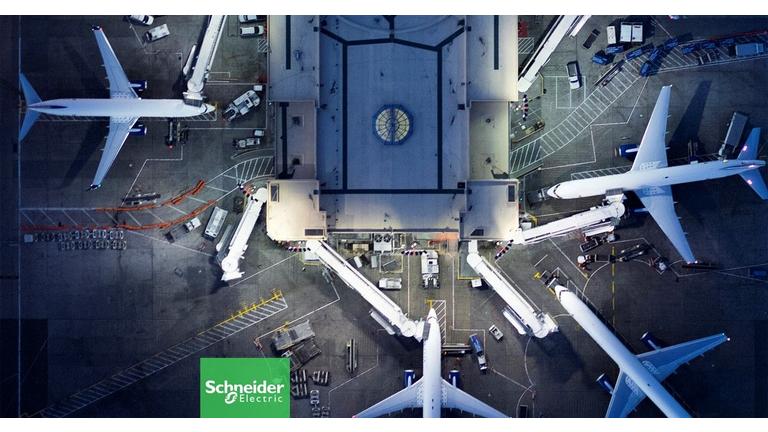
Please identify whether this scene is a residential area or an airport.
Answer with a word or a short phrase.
airport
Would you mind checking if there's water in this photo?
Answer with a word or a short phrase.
No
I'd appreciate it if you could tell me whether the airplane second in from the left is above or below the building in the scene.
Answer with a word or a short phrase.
below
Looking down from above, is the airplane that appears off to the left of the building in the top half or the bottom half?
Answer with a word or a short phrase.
top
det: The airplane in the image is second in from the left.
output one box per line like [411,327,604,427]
[350,308,515,432]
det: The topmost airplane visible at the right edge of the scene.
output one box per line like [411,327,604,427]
[546,82,768,266]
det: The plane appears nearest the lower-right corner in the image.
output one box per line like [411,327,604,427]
[555,287,738,432]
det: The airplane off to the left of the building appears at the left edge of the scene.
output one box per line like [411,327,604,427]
[13,24,217,189]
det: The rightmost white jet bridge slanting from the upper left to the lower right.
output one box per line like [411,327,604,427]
[466,240,559,337]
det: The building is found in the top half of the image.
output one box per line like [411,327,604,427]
[266,0,520,243]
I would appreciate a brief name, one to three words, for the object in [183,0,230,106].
jet bridge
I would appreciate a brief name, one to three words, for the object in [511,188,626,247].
jet bridge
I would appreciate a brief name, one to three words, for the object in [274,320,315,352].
work vehicle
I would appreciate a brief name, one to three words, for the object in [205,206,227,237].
bus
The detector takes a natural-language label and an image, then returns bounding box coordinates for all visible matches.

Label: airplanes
[555,287,738,432]
[350,308,515,432]
[13,24,217,189]
[546,82,768,266]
